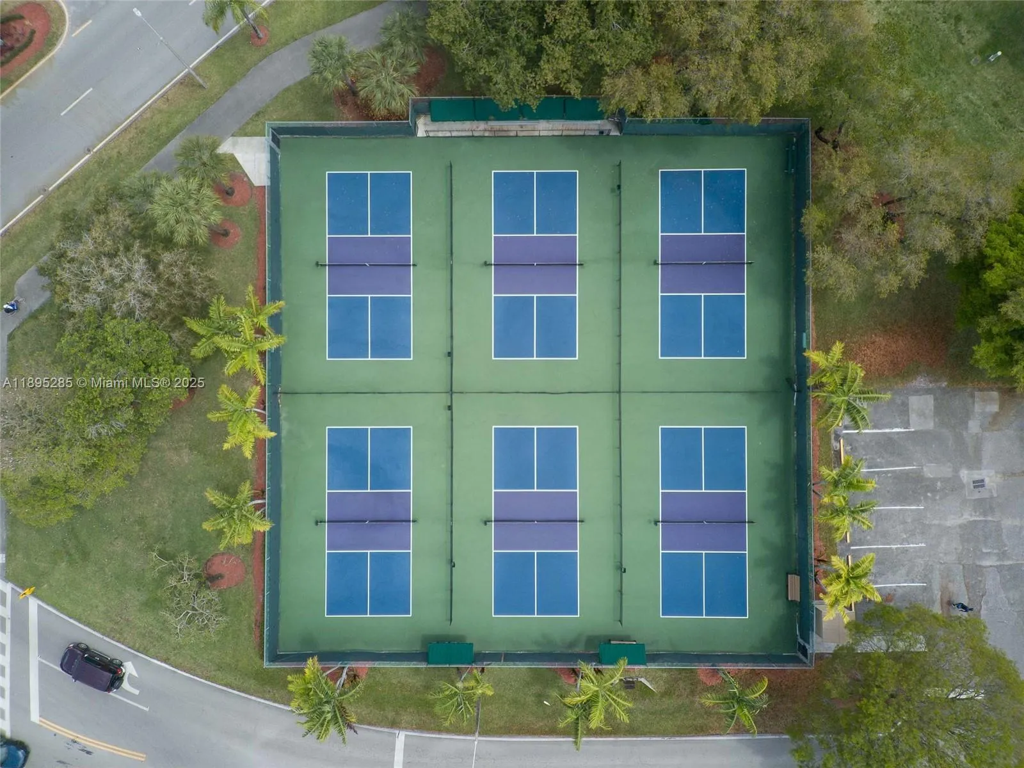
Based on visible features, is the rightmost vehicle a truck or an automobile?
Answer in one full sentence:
In the photo, the rightmost vehicle shows up as an automobile.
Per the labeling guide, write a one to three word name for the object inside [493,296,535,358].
sports court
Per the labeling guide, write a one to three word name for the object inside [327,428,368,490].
sports court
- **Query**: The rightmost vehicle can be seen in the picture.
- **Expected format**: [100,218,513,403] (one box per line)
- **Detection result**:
[57,646,127,696]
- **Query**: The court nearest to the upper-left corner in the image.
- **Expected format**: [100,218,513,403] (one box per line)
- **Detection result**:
[327,172,368,234]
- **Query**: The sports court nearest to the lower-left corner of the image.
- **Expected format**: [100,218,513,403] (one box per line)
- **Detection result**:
[326,552,368,615]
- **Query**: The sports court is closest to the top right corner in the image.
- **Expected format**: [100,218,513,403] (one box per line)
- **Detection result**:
[703,170,745,232]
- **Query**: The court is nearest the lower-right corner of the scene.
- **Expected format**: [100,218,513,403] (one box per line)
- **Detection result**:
[705,554,747,617]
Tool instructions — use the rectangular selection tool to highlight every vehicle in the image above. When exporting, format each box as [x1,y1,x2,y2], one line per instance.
[0,739,29,768]
[57,646,127,696]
